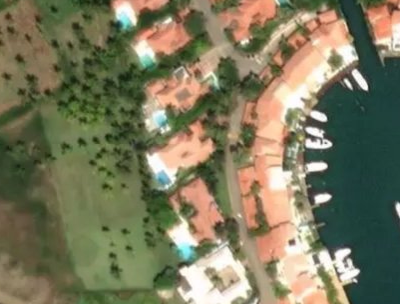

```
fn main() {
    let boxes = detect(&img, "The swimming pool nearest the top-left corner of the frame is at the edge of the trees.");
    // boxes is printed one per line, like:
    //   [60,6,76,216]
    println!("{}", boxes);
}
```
[115,3,138,30]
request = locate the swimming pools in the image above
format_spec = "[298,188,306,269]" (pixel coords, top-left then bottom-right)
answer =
[145,97,171,132]
[146,155,177,189]
[134,40,156,69]
[115,3,138,30]
[170,220,198,261]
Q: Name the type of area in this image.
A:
residential area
